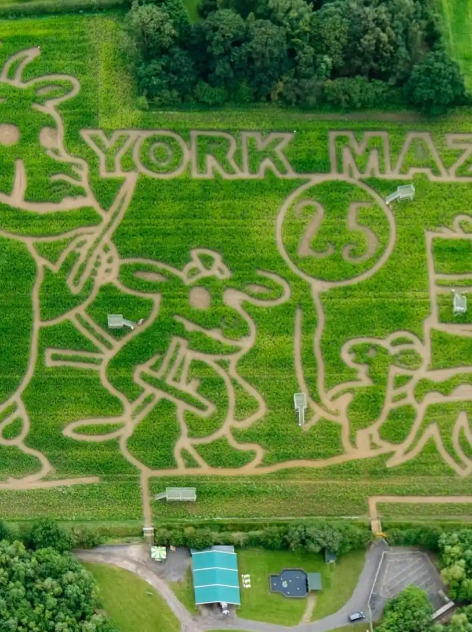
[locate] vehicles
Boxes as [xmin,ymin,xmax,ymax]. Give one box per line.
[222,604,228,614]
[348,611,365,621]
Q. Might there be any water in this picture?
No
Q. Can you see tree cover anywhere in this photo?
Yes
